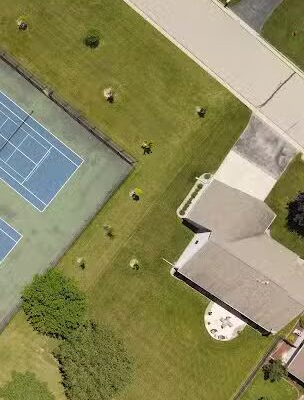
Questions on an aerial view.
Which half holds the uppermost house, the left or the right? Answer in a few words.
right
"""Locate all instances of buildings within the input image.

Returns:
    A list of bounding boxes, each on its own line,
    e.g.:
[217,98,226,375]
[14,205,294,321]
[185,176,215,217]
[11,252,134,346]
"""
[170,177,304,333]
[285,337,304,380]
